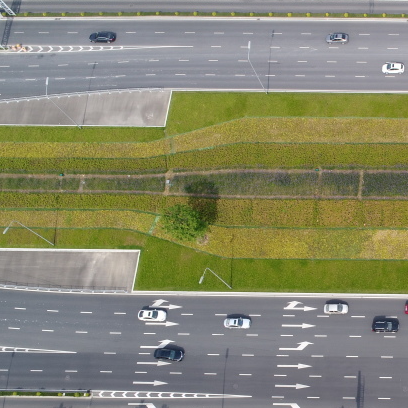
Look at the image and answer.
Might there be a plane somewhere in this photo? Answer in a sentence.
No, the frame has no plane in it.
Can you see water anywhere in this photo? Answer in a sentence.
No, no water is visible.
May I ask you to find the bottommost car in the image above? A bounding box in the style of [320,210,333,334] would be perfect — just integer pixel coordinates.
[153,348,183,361]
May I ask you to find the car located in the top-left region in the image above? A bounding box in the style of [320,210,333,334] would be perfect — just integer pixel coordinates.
[89,30,113,42]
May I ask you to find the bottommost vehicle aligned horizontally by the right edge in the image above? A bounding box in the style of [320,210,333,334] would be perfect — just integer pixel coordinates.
[371,319,398,332]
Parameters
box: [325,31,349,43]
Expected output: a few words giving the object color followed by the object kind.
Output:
gray vehicle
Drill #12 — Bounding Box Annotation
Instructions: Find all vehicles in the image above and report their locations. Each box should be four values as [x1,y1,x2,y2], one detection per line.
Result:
[222,316,251,328]
[89,30,113,42]
[136,309,165,322]
[381,62,405,73]
[371,319,398,332]
[323,302,347,314]
[325,31,349,43]
[153,348,183,361]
